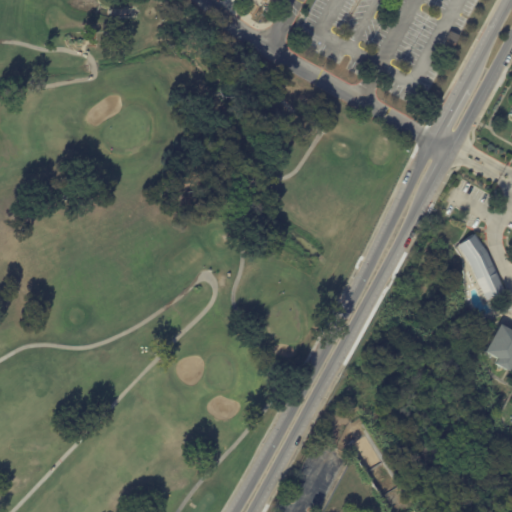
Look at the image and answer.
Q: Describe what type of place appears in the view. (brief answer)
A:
golf course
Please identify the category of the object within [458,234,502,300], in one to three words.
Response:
building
